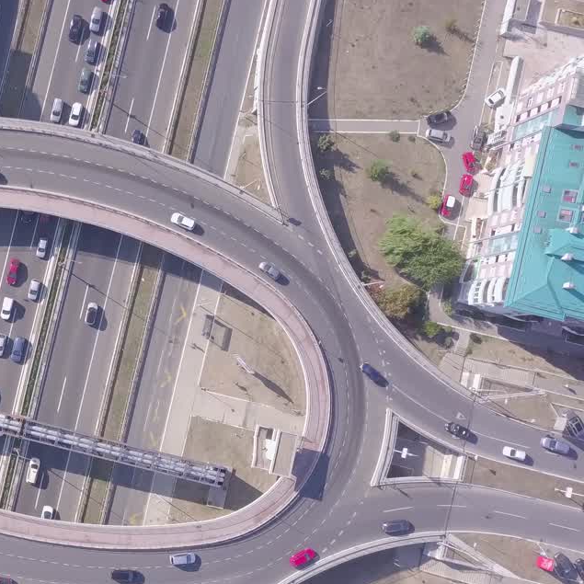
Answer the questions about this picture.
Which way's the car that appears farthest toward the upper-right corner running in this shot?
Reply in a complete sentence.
I'd say the car that appears farthest toward the upper-right corner is aligned at an angle in the picture.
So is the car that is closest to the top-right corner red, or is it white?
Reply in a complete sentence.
In this view, the car that is closest to the top-right corner is white.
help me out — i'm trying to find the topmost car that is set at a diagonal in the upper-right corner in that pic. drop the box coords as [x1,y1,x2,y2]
[483,89,507,109]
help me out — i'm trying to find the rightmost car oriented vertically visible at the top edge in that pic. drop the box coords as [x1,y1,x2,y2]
[156,5,170,30]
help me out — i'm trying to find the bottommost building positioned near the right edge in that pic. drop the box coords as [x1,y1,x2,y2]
[454,55,584,335]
